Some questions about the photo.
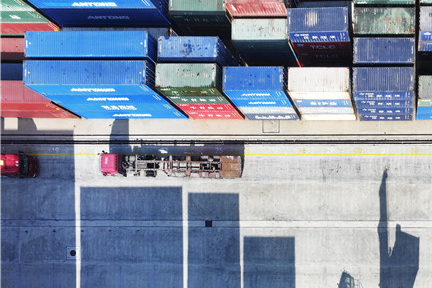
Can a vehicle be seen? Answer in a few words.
Yes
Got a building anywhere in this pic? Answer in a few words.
No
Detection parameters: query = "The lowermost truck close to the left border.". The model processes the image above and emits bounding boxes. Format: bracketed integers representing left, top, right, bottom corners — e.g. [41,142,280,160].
[0,154,45,180]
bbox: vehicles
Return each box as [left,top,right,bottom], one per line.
[0,154,45,180]
[102,151,243,179]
